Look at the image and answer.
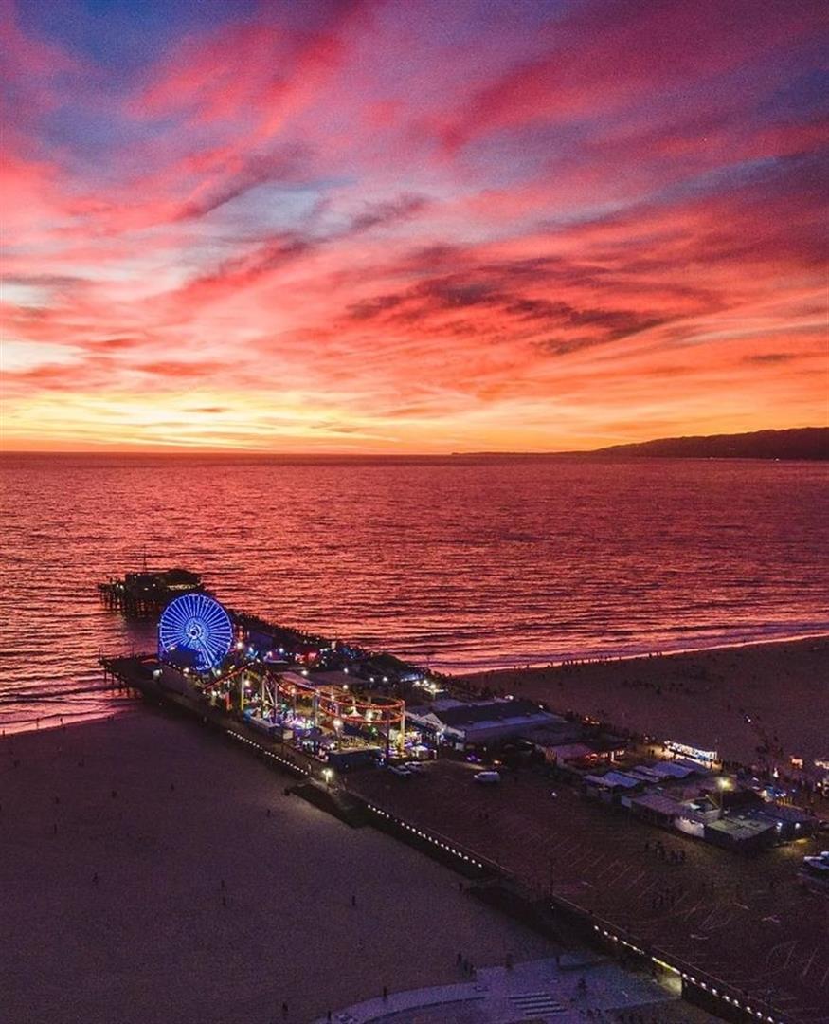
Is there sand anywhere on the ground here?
Yes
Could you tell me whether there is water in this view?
Yes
